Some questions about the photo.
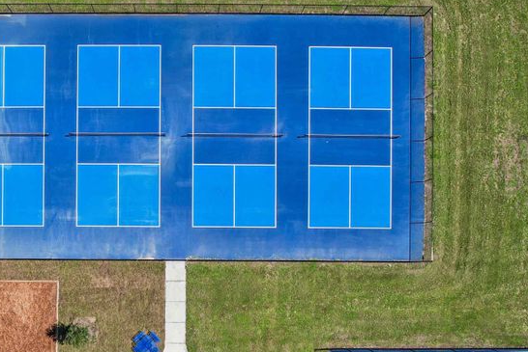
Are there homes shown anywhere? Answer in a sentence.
No, I find no home anywhere in the image.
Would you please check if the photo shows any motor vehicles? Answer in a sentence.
No, I find no motor vehicle anywhere in the image.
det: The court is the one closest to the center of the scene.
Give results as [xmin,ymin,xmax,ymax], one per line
[235,165,275,227]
